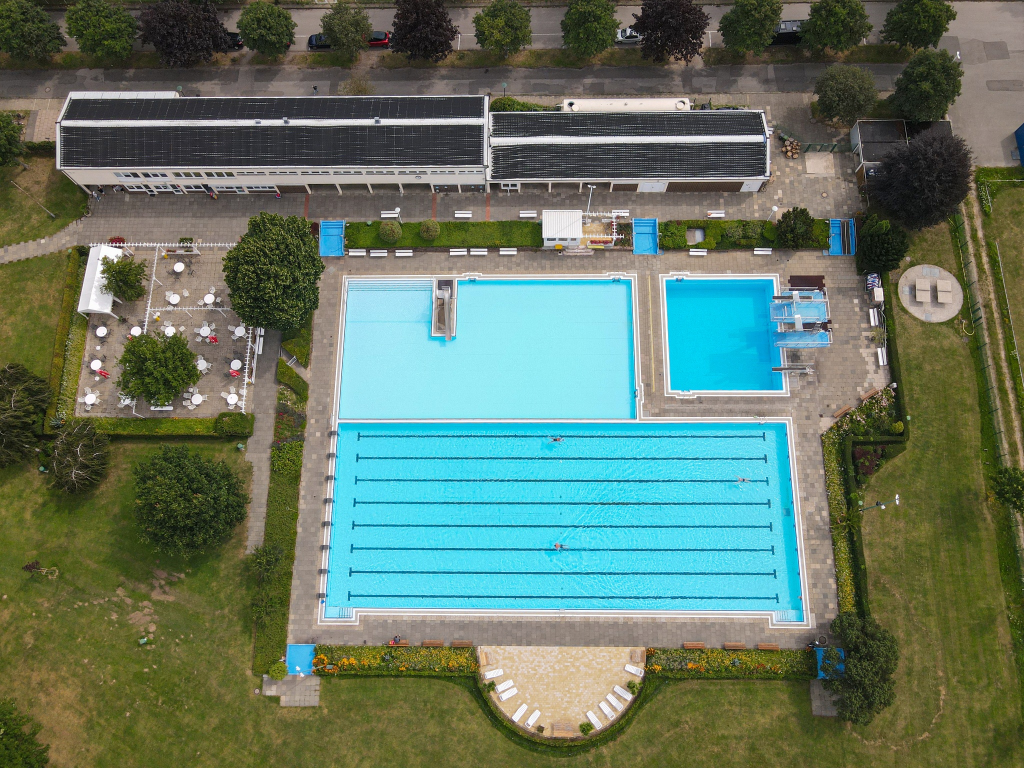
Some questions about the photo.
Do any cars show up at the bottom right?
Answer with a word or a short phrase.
No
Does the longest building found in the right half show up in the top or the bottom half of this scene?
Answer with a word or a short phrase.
top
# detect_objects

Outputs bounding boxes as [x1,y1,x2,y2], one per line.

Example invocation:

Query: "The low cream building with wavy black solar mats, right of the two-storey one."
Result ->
[488,109,770,192]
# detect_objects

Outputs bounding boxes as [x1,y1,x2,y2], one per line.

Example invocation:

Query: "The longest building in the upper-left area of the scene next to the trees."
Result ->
[56,93,490,195]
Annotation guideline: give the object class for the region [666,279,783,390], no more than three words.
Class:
swimming pool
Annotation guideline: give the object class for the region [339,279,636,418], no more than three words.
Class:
swimming pool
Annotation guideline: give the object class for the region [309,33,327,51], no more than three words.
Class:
car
